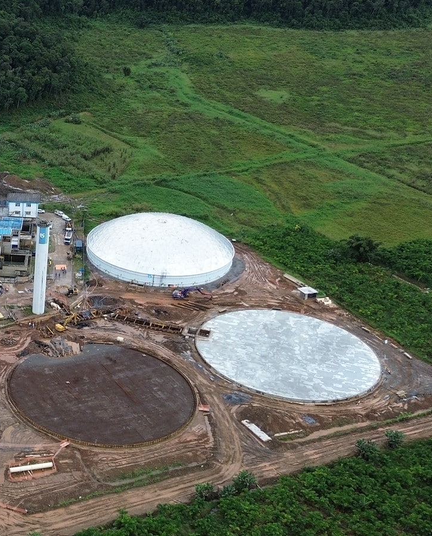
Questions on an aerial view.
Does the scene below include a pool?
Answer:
No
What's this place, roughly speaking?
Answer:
industrial area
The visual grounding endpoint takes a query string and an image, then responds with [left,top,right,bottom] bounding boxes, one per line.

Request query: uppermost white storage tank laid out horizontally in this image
[87,211,235,286]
